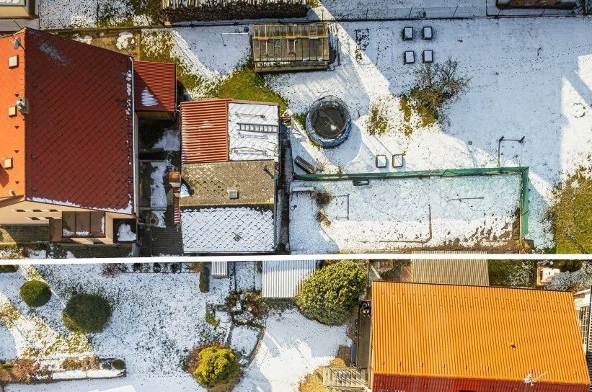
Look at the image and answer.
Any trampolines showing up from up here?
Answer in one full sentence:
Yes, the picture does show a trampoline.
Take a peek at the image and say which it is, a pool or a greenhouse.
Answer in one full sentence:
Visible in the photo is a greenhouse.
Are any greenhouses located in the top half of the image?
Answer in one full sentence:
Yes, you'll find a greenhouse in the top half of the image.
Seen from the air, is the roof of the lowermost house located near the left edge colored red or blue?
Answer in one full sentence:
The roof of the lowermost house located near the left edge looks red in the image.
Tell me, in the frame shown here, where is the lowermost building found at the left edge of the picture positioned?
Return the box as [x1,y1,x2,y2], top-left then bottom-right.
[0,25,156,251]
